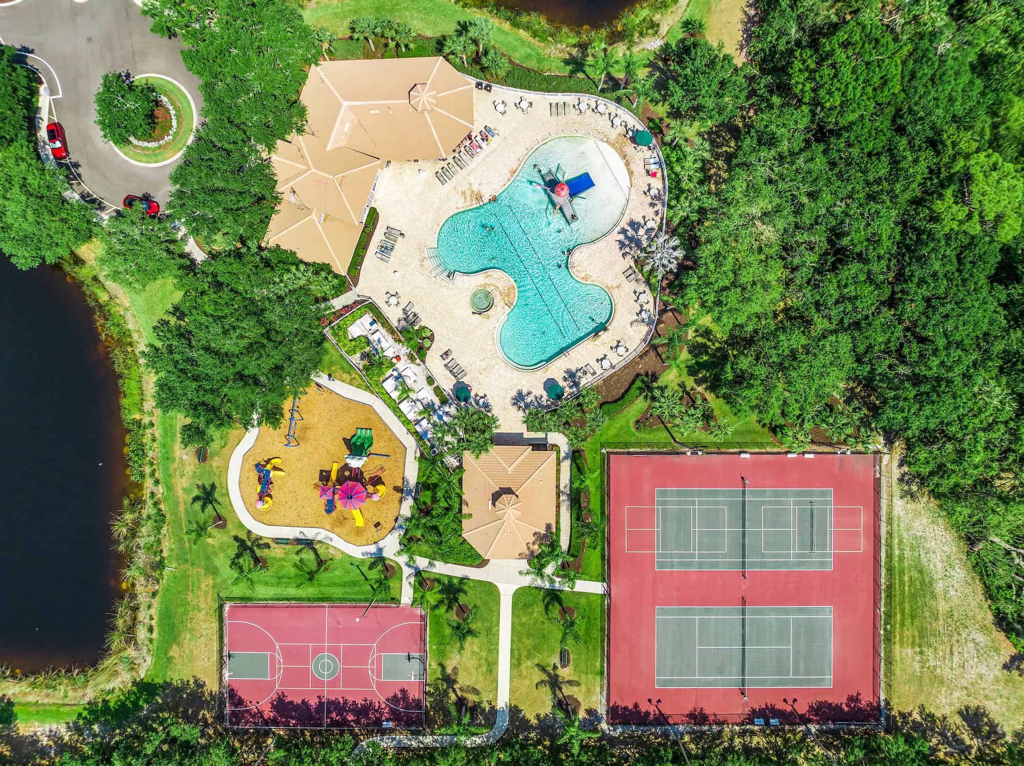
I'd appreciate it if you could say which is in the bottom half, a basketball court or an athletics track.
basketball court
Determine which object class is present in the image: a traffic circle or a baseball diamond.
traffic circle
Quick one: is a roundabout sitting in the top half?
Yes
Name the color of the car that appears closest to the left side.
red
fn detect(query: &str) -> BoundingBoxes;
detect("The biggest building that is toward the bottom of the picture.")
[462,445,557,560]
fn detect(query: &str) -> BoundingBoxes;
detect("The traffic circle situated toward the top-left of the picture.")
[103,72,198,167]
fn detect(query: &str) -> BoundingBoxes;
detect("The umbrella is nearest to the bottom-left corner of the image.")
[455,384,472,401]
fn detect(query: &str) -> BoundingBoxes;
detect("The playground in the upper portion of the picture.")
[535,166,595,225]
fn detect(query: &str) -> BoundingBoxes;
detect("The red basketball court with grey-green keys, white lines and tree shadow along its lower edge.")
[226,605,425,730]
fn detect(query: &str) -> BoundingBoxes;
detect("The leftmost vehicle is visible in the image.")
[48,123,70,158]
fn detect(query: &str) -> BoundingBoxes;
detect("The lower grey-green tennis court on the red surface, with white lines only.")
[656,607,833,688]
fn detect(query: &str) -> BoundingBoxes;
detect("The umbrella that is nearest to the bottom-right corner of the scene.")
[547,383,564,400]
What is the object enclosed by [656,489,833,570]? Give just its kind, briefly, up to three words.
tennis court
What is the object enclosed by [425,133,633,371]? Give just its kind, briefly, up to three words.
swimming pool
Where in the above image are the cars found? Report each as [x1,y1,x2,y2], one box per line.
[124,196,160,215]
[48,123,70,158]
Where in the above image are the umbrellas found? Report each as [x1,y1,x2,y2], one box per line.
[547,383,564,400]
[636,129,652,146]
[455,384,472,401]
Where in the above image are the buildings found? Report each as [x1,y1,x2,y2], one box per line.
[462,445,557,560]
[265,56,474,275]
